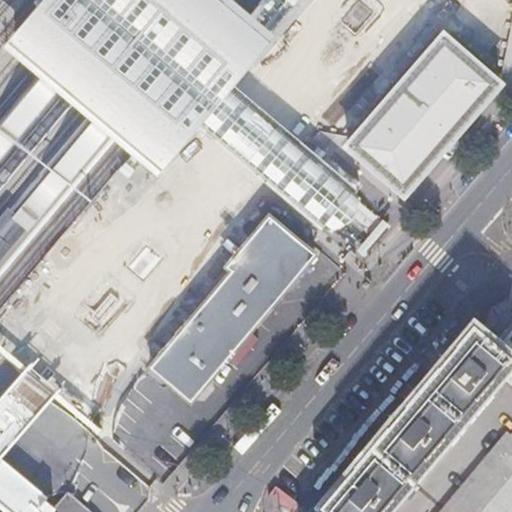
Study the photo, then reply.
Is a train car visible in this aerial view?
Yes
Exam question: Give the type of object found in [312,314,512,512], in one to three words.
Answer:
building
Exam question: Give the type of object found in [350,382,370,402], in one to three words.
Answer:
car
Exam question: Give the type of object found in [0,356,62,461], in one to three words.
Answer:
building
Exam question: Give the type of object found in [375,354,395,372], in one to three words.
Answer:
car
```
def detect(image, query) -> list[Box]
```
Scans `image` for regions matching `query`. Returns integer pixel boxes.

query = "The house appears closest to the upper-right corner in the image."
[342,30,505,200]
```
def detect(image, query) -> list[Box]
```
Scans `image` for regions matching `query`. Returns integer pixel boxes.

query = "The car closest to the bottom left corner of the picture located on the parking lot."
[80,484,98,504]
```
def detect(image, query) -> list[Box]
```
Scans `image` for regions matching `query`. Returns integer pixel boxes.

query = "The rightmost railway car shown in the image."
[16,95,70,156]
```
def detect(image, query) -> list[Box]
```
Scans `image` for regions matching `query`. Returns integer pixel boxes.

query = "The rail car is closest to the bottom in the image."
[0,150,24,188]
